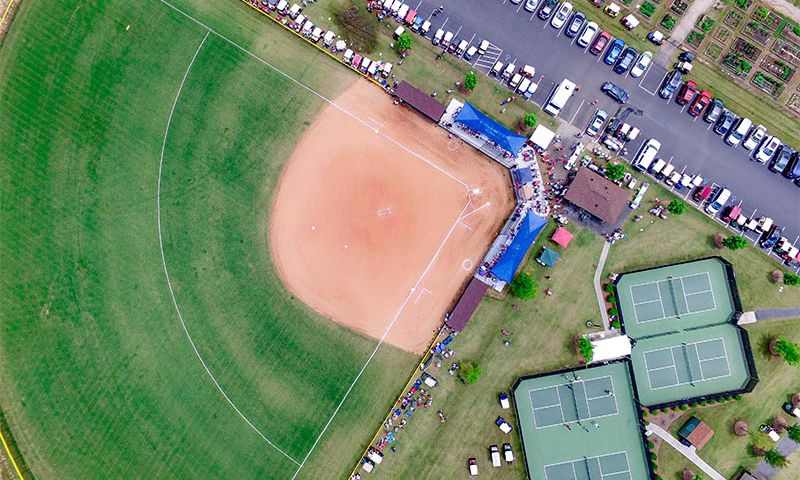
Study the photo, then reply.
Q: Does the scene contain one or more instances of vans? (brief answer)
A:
Yes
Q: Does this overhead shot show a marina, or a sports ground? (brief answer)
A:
sports ground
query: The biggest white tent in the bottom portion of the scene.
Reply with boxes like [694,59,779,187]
[586,332,631,362]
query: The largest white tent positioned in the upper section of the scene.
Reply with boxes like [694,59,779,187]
[528,124,555,152]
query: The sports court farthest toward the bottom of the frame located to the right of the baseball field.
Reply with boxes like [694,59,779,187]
[530,443,649,480]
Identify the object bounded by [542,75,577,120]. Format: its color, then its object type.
white vehicle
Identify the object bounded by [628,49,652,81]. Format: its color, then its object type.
white car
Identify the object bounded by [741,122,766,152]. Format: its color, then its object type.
white car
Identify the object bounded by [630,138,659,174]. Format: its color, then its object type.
white van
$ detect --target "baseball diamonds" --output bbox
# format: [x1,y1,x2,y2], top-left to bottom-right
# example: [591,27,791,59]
[0,0,516,480]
